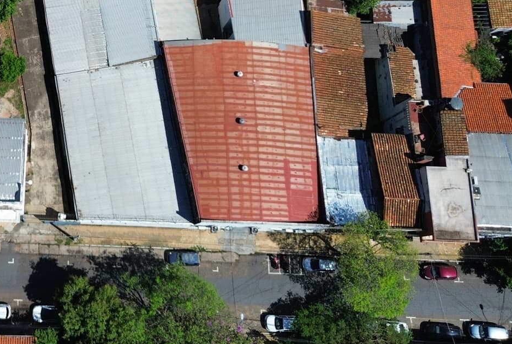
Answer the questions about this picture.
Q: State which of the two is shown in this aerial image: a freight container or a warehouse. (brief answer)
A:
warehouse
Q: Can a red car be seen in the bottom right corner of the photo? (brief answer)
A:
Yes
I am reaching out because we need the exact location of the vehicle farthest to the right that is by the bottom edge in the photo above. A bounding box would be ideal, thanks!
[465,321,506,341]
